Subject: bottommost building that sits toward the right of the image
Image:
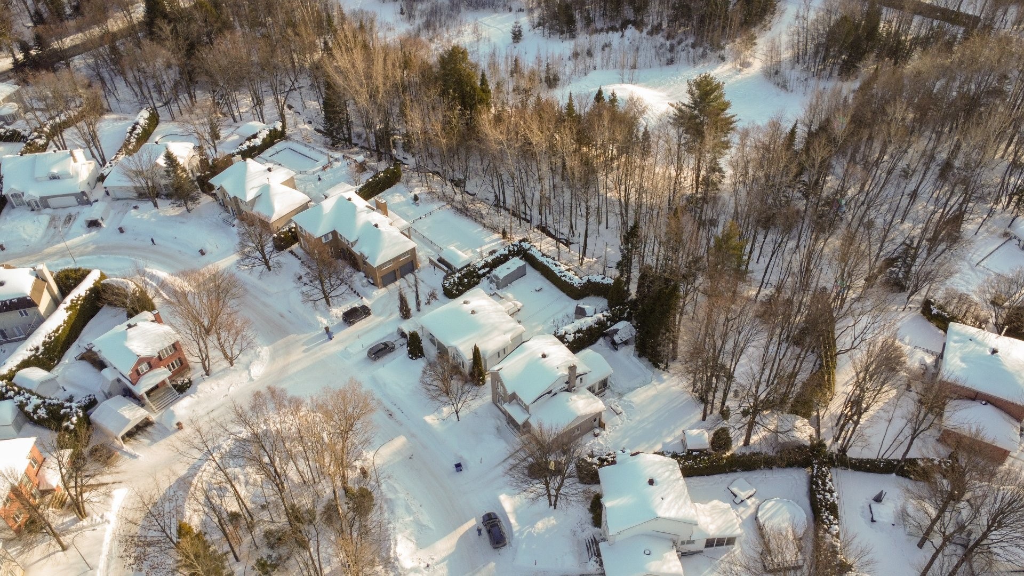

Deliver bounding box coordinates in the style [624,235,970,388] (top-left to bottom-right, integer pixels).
[587,445,739,576]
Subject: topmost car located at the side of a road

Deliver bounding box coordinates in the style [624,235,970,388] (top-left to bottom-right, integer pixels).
[339,305,371,323]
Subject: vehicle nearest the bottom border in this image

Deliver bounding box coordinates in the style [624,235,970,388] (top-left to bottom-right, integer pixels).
[475,510,504,552]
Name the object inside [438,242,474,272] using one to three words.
shed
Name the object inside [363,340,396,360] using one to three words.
car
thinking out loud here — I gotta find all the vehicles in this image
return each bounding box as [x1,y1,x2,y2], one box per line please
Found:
[339,305,371,323]
[475,510,504,552]
[363,340,396,360]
